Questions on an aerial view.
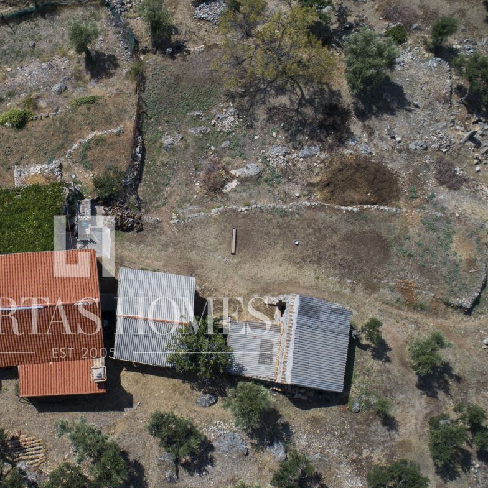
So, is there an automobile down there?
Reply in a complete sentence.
No, I can't see a single automobile in this photo.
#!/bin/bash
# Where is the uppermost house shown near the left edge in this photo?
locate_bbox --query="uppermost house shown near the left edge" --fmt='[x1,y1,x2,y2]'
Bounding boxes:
[0,248,106,370]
